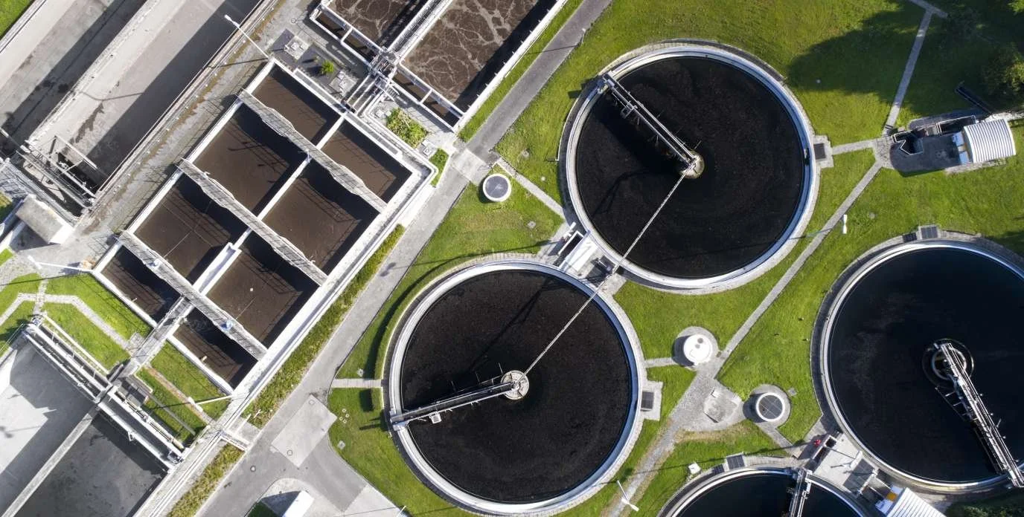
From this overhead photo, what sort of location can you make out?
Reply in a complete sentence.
The area seen from above is an industrial area.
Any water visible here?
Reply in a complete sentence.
Yes, the picture does contain water.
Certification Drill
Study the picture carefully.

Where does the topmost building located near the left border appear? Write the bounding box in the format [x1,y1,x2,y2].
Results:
[17,193,74,244]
